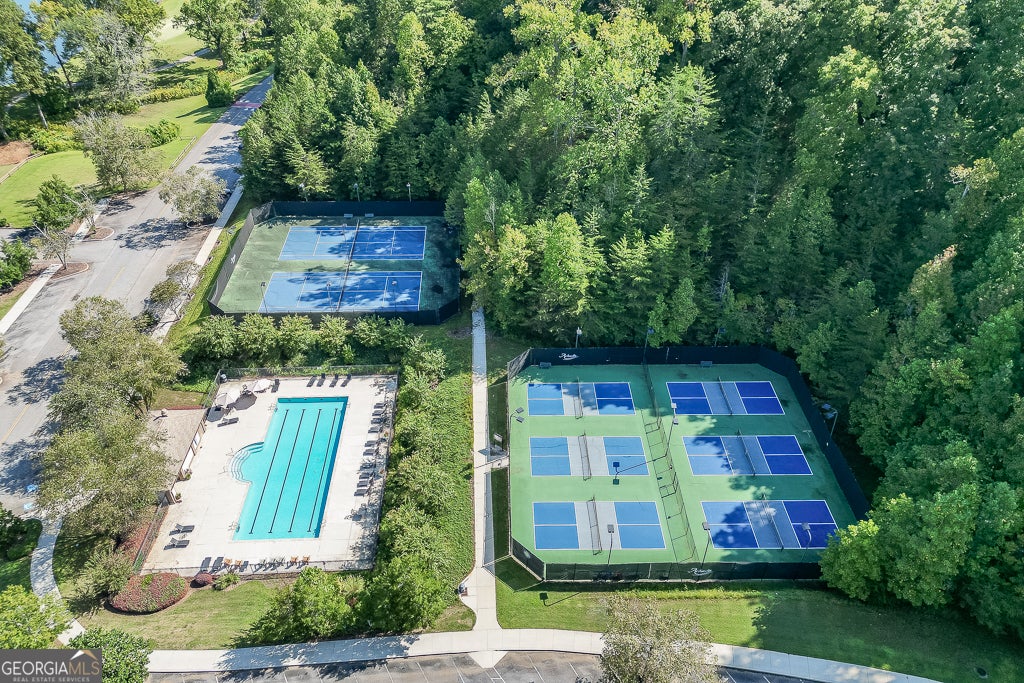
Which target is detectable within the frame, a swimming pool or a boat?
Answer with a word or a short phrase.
swimming pool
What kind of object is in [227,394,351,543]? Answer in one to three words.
swimming pool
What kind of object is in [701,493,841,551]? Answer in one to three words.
sports court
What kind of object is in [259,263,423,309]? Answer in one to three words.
tennis court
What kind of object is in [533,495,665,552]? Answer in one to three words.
sports court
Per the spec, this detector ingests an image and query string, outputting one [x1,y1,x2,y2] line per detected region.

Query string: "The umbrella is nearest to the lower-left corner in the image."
[216,388,242,411]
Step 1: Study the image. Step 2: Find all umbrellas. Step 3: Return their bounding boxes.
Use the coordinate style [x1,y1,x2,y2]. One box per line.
[216,388,242,411]
[248,377,274,400]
